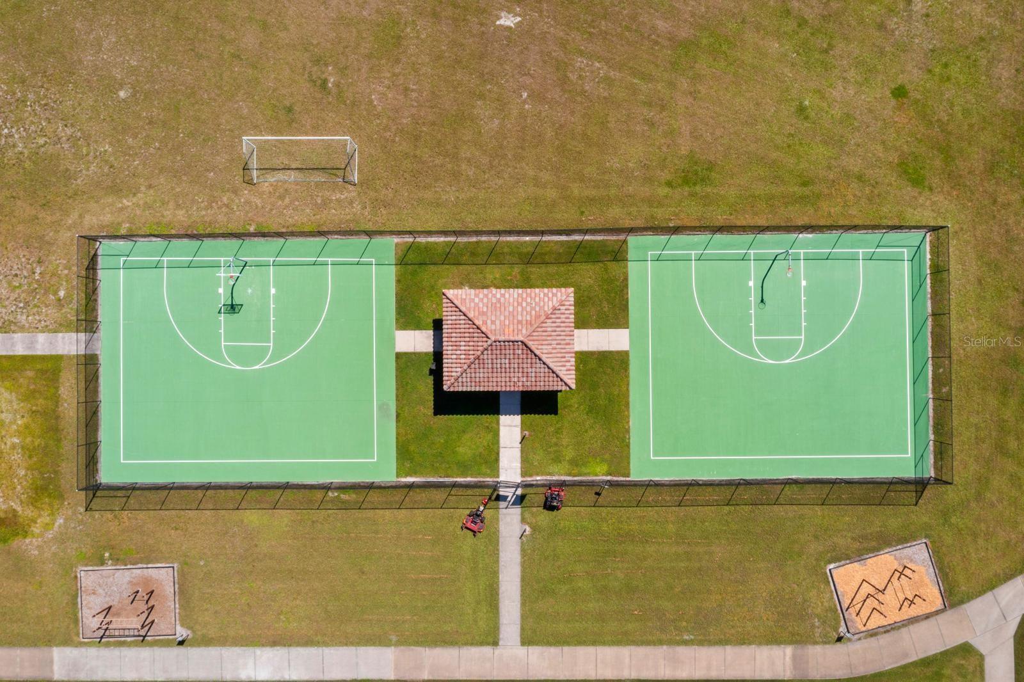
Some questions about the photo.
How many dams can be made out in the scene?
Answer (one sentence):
There are no dams in this view.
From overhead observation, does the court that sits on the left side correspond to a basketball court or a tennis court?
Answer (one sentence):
I'd identify the court that sits on the left side as a basketball court.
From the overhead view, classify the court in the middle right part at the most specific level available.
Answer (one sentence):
What you see as the court in the middle right part is a basketball court.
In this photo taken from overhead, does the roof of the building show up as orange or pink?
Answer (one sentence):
In this view, the roof of the building is pink.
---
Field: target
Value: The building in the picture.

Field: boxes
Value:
[441,287,576,392]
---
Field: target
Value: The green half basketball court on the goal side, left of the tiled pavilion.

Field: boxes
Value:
[100,239,396,483]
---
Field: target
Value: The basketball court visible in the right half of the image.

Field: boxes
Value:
[629,233,930,478]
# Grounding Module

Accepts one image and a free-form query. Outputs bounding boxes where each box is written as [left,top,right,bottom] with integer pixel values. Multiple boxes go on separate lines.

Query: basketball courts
[100,239,396,483]
[629,233,930,478]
